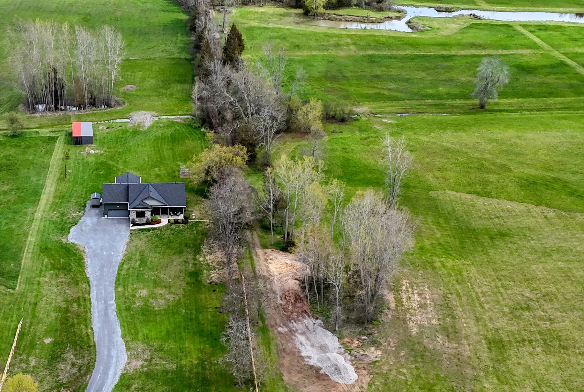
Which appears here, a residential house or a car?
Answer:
residential house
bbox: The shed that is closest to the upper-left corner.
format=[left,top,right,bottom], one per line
[72,122,94,144]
